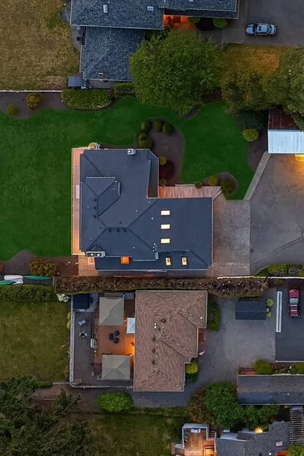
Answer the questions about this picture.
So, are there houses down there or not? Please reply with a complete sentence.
Yes, the picture does show a house.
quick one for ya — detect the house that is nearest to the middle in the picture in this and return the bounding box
[80,149,214,270]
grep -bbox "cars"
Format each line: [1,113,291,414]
[245,22,277,37]
[286,289,301,317]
